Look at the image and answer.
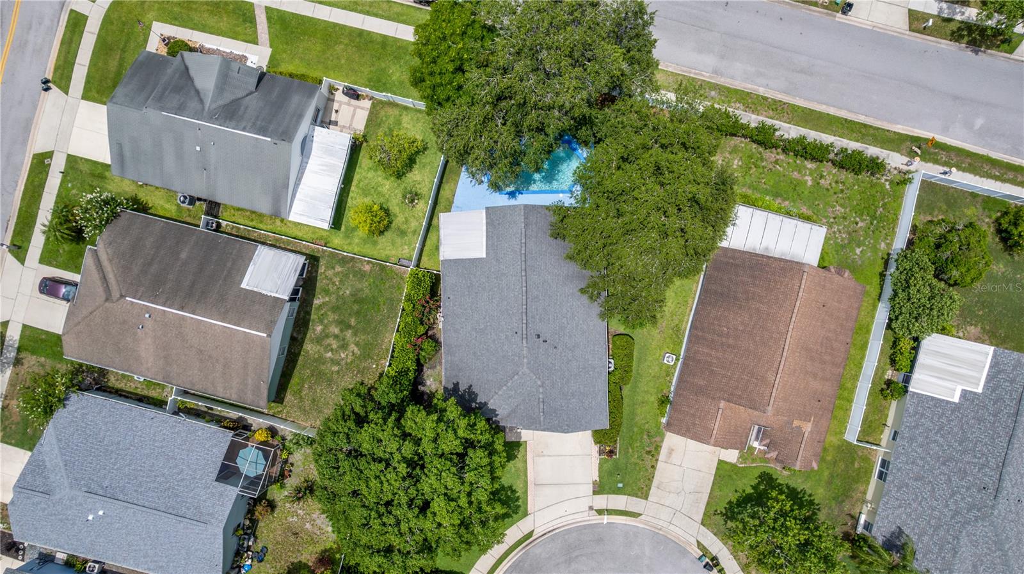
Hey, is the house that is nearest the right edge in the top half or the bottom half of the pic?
bottom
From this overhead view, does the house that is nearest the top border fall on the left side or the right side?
left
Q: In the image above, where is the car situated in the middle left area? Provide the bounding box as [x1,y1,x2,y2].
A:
[37,277,79,307]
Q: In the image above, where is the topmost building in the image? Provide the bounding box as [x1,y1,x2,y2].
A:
[106,50,355,228]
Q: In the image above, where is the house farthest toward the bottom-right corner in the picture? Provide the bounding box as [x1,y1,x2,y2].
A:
[860,333,1024,574]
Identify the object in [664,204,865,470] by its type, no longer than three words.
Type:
house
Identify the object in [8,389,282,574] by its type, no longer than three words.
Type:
house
